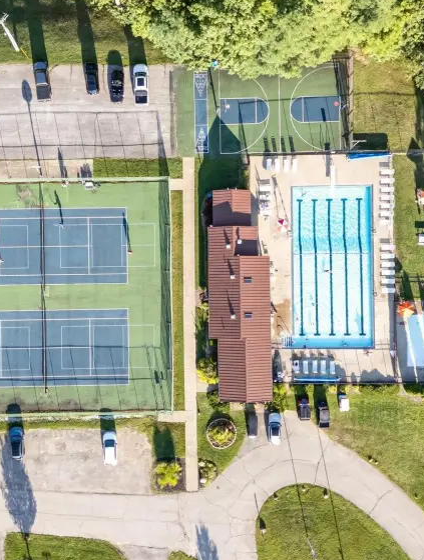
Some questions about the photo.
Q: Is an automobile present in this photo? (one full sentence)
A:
Yes, the image includes an automobile.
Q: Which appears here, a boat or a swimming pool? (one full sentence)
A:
I can see a swimming pool in this picture.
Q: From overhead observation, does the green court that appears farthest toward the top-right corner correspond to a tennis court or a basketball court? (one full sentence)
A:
It looks like the green court that appears farthest toward the top-right corner is a basketball court.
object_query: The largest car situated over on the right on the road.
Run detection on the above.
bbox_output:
[267,411,282,445]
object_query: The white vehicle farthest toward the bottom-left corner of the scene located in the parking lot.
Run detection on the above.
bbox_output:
[101,430,117,465]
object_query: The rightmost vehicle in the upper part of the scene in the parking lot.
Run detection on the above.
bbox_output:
[132,64,149,108]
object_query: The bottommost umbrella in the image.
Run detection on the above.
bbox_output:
[395,300,413,318]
